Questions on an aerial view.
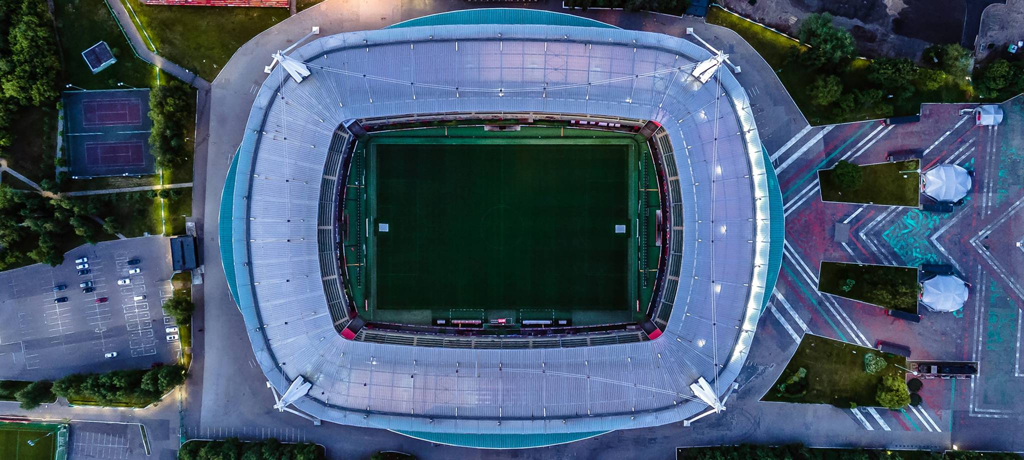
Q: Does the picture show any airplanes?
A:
No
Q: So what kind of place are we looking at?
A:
sports ground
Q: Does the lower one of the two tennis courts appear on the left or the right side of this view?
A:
left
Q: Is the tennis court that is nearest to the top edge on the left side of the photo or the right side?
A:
left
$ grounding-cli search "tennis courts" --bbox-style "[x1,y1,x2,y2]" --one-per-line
[64,89,152,134]
[65,130,159,177]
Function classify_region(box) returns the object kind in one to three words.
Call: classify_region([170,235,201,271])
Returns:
building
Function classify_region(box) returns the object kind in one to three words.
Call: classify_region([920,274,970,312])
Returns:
tent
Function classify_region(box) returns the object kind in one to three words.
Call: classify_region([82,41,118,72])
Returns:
building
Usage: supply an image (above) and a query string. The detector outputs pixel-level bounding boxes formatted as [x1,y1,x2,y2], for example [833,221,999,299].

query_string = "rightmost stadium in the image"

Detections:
[218,7,785,450]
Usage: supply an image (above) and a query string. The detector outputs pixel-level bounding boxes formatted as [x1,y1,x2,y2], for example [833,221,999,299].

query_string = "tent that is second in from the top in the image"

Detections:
[921,163,972,202]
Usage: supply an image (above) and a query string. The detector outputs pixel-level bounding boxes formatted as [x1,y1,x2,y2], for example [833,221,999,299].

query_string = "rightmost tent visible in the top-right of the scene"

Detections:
[974,105,1003,125]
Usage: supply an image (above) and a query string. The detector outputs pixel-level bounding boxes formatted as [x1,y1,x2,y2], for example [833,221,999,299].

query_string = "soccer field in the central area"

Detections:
[342,125,663,331]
